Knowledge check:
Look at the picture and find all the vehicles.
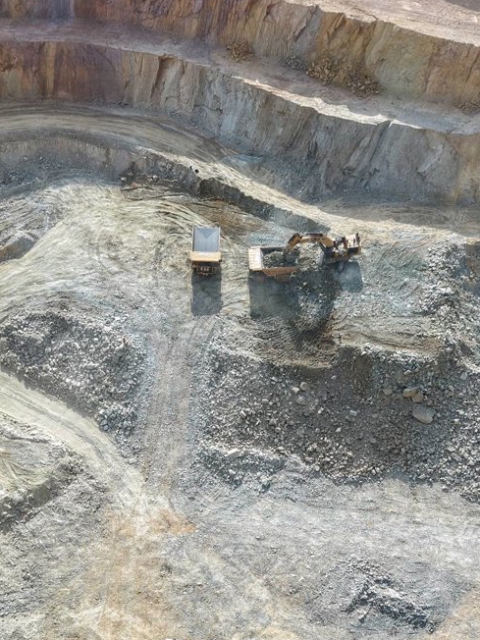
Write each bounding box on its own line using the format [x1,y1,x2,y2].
[249,245,304,287]
[289,235,369,273]
[188,223,222,277]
